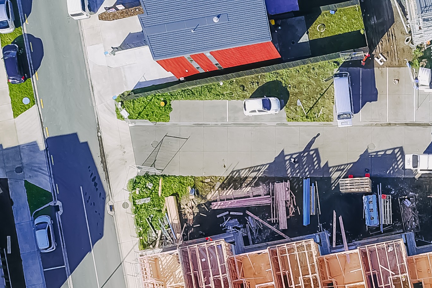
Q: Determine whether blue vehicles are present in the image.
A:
Yes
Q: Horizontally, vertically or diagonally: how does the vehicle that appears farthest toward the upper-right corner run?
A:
vertically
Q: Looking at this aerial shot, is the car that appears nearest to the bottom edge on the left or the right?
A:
left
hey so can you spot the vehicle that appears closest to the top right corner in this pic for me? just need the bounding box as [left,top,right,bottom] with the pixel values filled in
[333,73,355,125]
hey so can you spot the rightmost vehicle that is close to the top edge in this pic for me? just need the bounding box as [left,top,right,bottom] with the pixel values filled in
[67,0,92,26]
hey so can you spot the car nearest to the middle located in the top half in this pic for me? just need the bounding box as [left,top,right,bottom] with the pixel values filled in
[242,96,281,117]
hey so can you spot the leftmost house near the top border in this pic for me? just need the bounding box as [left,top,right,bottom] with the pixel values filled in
[141,0,300,78]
